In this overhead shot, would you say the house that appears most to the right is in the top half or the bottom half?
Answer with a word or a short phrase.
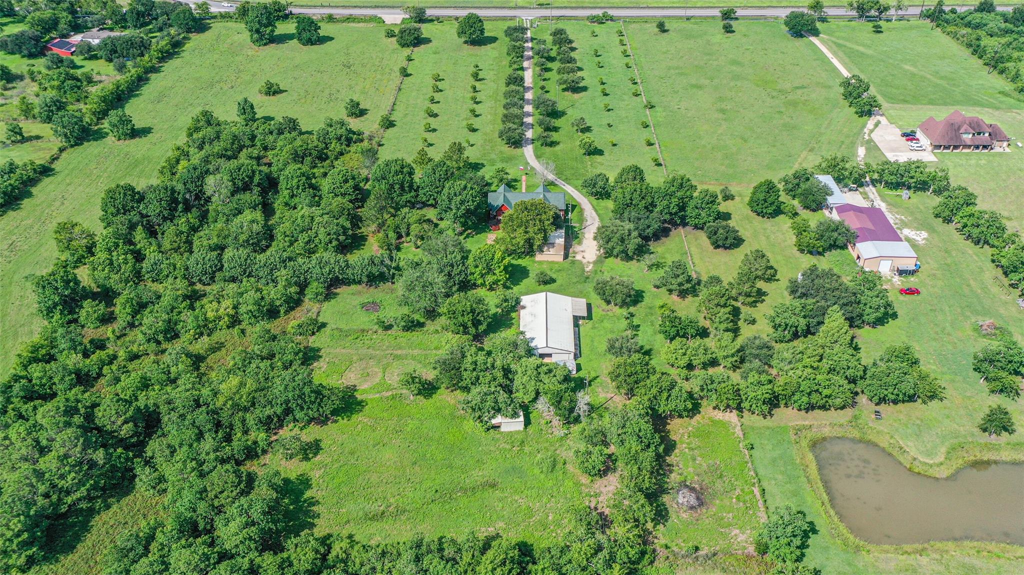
top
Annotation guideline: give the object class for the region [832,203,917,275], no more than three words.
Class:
building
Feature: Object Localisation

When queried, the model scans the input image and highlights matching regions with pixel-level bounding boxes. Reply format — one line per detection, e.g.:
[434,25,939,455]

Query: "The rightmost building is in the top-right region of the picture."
[917,107,1013,152]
